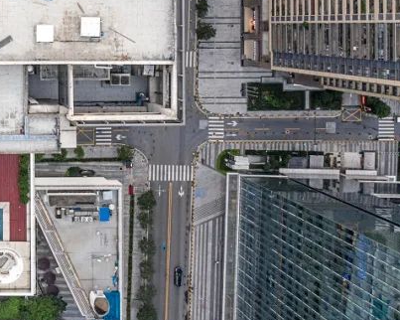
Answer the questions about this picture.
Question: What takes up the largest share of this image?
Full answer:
The largest share of the image is taken up by buildings.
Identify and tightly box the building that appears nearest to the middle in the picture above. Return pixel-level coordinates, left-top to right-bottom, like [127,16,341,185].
[228,155,267,172]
